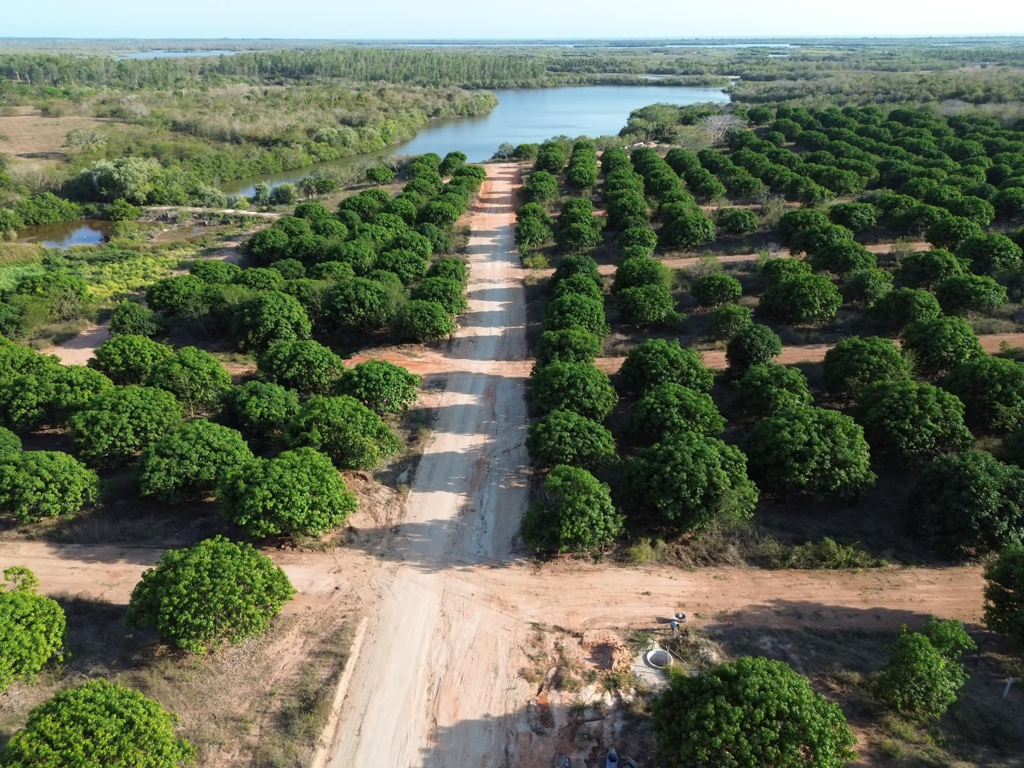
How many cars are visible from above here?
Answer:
zero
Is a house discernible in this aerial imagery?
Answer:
No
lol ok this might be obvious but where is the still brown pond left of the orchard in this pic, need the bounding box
[14,219,141,250]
